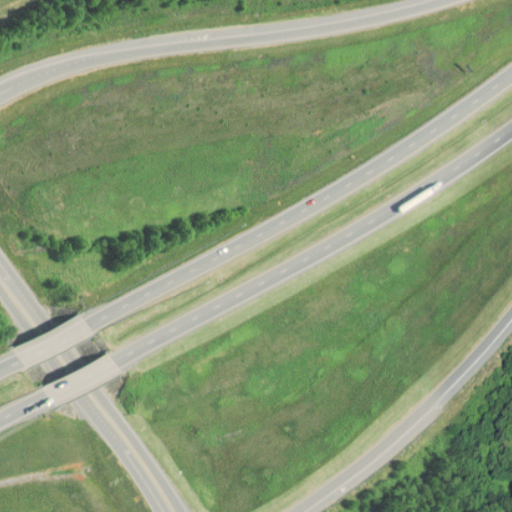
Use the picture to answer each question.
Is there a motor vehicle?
Yes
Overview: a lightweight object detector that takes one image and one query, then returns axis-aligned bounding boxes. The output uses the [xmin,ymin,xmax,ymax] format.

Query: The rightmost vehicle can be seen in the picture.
[404,180,446,210]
